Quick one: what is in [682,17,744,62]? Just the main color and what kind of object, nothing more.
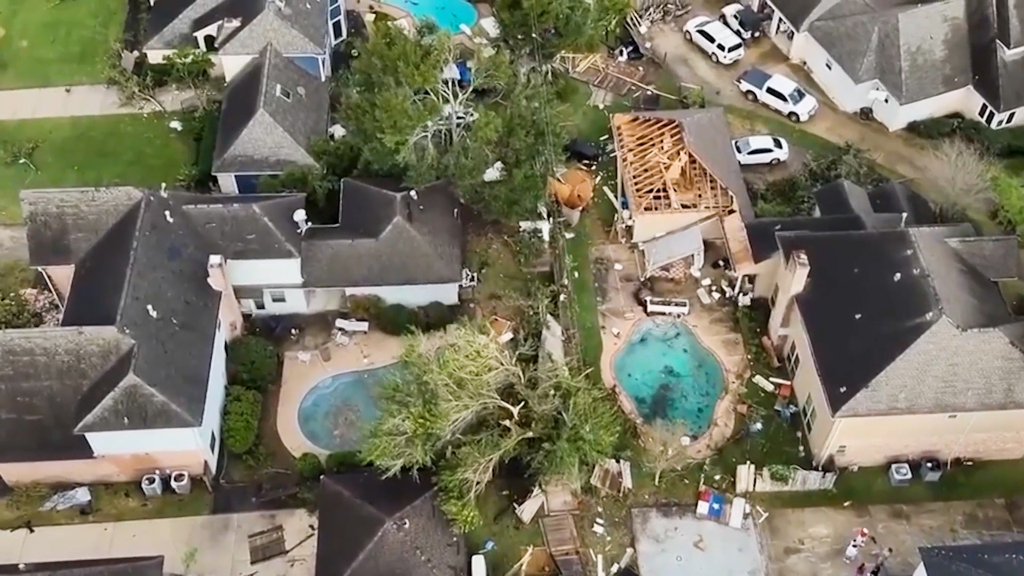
white car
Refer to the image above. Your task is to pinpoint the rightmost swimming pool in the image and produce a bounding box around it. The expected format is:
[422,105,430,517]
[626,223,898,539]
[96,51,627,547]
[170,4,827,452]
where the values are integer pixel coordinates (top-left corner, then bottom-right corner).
[609,314,732,445]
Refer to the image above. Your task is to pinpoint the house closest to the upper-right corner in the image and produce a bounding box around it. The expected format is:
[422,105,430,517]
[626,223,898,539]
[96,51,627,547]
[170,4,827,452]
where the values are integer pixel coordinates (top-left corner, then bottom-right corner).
[742,0,1024,133]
